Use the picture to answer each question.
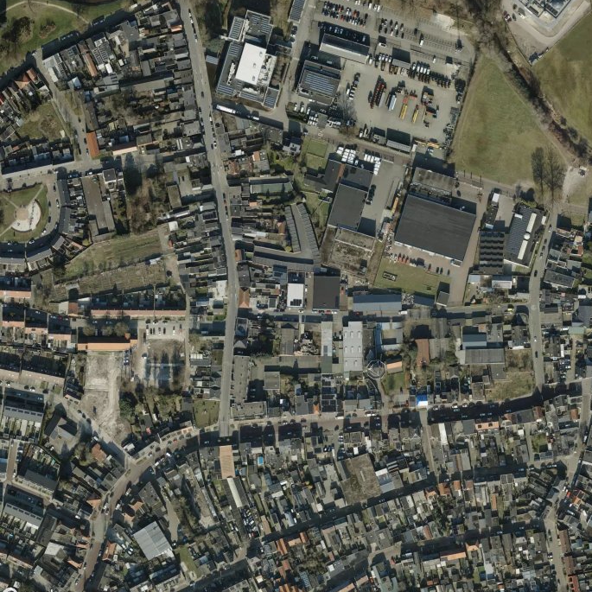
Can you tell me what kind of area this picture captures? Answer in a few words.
residential area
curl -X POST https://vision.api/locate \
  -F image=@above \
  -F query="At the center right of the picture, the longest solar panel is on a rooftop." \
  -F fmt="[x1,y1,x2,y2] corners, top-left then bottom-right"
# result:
[508,216,529,255]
